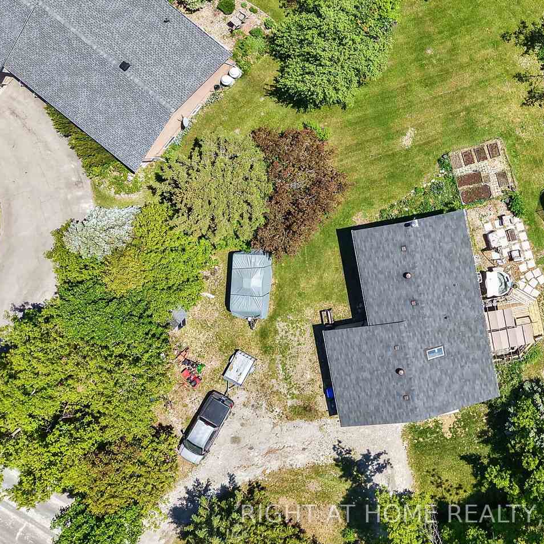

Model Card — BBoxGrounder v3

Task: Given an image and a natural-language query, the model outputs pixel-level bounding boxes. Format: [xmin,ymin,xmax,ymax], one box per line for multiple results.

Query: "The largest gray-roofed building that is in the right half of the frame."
[324,208,499,426]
